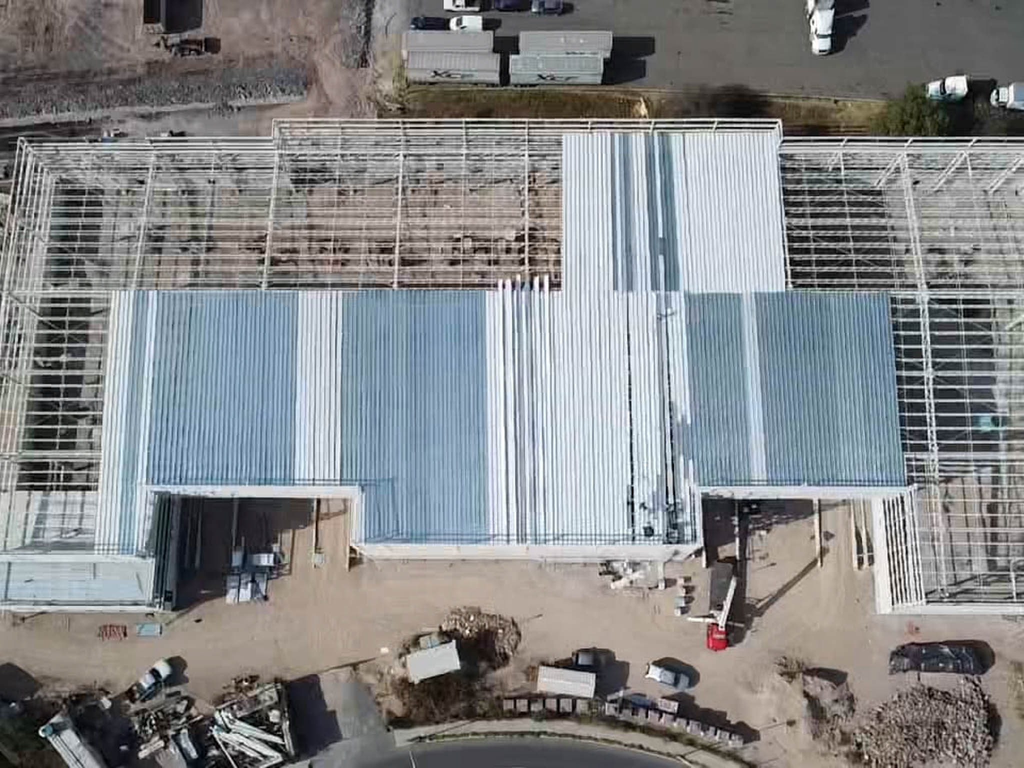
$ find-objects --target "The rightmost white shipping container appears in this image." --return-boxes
[538,666,596,698]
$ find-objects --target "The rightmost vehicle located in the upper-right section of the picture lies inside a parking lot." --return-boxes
[992,83,1024,108]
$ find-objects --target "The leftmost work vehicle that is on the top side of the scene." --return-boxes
[155,36,207,60]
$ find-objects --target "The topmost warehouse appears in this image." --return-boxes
[0,118,1024,615]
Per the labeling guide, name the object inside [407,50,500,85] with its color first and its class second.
gray trailer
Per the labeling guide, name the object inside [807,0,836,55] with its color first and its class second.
white truck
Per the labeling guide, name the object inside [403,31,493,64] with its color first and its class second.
gray trailer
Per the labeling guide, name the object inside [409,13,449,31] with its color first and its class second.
black vehicle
